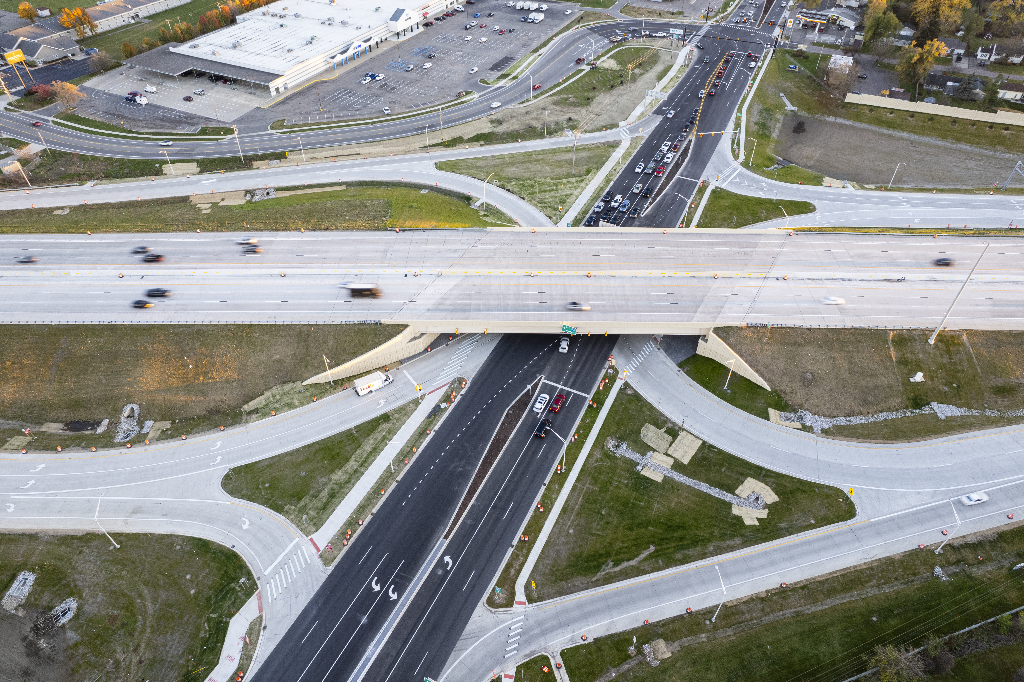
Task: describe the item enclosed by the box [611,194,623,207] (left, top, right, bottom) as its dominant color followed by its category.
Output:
white vehicle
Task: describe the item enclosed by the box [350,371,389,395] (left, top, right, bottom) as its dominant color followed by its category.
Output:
white truck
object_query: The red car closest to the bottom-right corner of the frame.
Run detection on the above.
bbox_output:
[549,395,566,413]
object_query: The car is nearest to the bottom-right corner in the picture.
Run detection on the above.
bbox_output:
[959,493,988,508]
